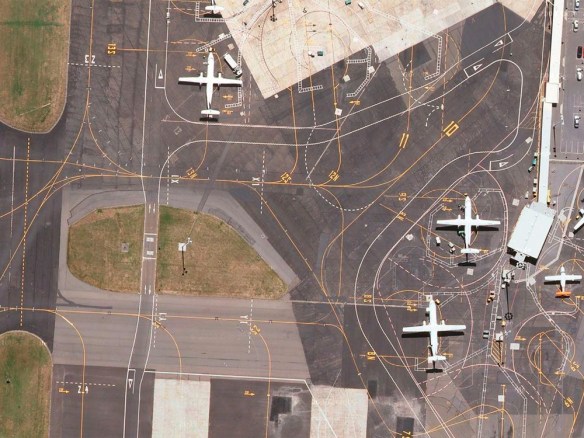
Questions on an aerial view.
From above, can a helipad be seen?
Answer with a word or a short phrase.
No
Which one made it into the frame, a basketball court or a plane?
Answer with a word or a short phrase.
plane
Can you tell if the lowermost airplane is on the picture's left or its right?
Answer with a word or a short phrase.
right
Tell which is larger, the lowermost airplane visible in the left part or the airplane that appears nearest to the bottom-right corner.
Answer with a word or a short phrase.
the lowermost airplane visible in the left part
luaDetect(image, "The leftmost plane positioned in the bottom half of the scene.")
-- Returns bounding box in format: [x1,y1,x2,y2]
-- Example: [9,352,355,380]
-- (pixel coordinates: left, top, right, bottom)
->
[402,301,466,363]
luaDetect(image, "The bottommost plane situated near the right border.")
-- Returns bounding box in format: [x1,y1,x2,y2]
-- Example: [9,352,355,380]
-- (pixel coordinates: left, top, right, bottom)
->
[545,265,582,295]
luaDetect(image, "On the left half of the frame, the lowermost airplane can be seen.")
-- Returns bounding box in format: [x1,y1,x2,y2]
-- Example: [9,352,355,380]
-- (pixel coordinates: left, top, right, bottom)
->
[179,52,242,115]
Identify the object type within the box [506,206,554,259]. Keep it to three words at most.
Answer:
building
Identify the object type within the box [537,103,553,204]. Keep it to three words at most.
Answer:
building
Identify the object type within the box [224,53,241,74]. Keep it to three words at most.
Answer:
vehicle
